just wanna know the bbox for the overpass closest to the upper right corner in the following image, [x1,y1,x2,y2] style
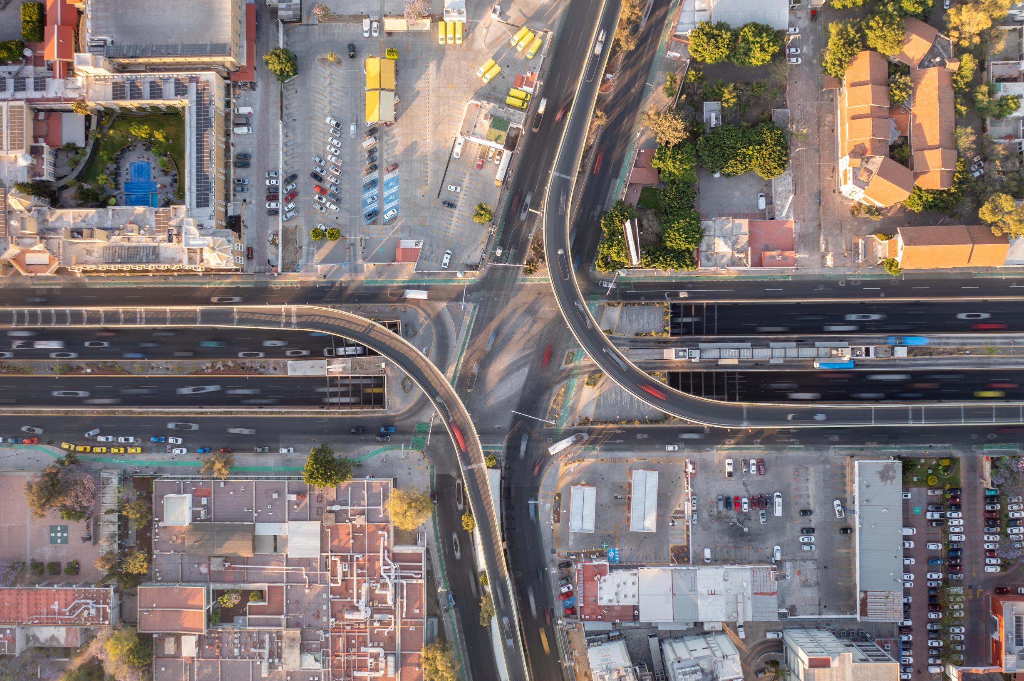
[544,0,1024,428]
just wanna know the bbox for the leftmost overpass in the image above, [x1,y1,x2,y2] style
[0,306,528,681]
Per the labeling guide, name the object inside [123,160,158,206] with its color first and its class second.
blue swimming pool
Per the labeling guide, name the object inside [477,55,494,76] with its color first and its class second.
yellow vehicle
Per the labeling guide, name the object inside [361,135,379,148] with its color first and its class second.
white vehicle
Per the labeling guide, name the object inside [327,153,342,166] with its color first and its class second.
white vehicle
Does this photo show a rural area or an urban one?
urban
